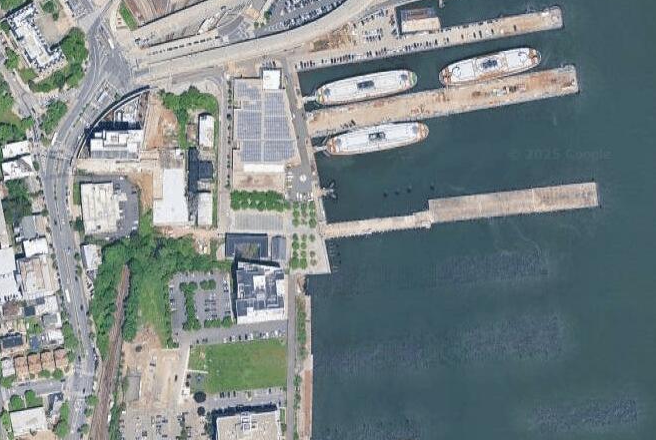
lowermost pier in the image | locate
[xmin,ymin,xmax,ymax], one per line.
[324,209,433,240]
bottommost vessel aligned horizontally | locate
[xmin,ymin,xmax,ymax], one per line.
[324,124,430,161]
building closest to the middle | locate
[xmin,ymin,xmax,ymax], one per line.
[272,236,286,262]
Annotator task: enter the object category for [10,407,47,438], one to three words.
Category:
building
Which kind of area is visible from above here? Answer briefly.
port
